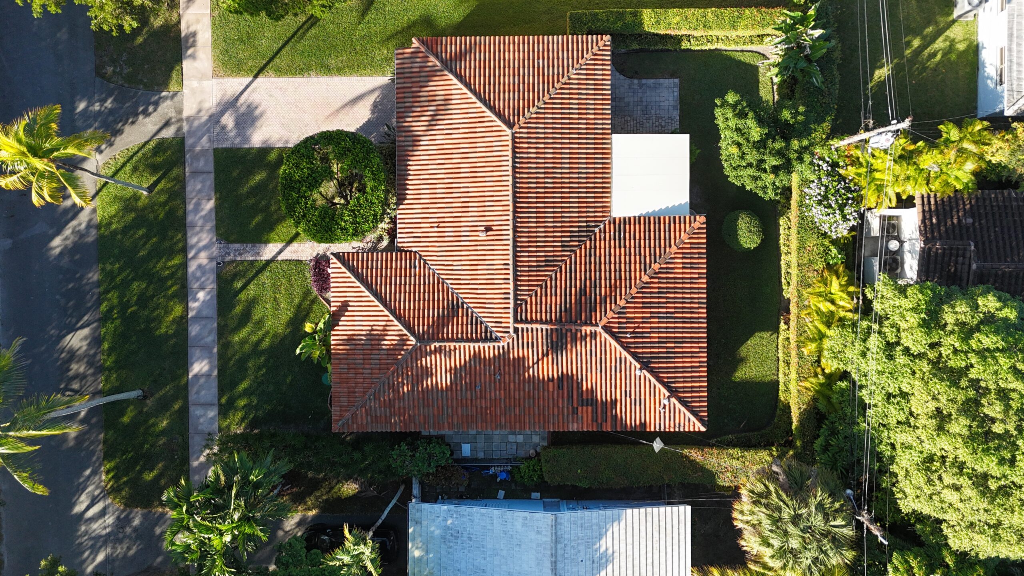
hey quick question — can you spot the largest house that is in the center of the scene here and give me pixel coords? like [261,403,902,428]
[328,33,709,434]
